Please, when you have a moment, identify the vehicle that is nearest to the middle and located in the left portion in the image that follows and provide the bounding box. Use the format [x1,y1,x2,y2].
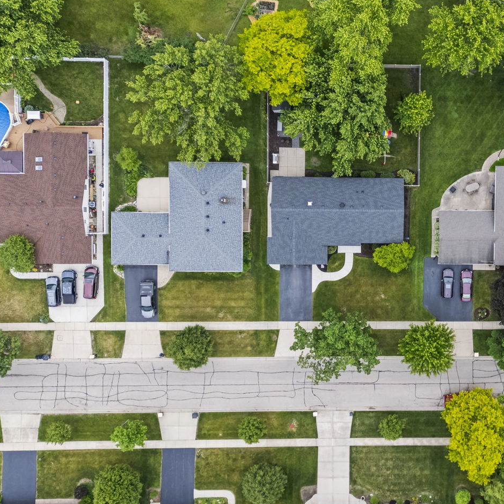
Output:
[139,280,156,318]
